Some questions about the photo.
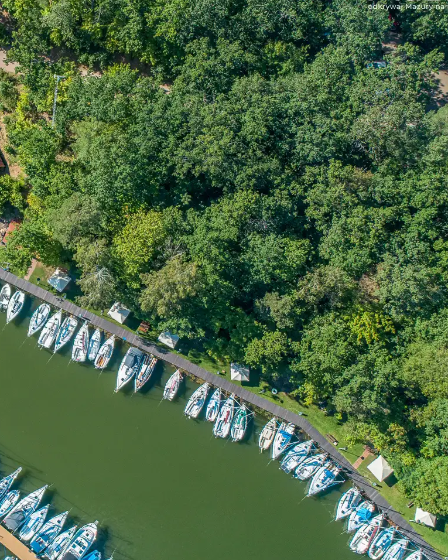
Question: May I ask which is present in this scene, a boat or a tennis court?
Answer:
boat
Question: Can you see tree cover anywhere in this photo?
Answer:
Yes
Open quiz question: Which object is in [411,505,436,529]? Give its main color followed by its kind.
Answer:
white gazebo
